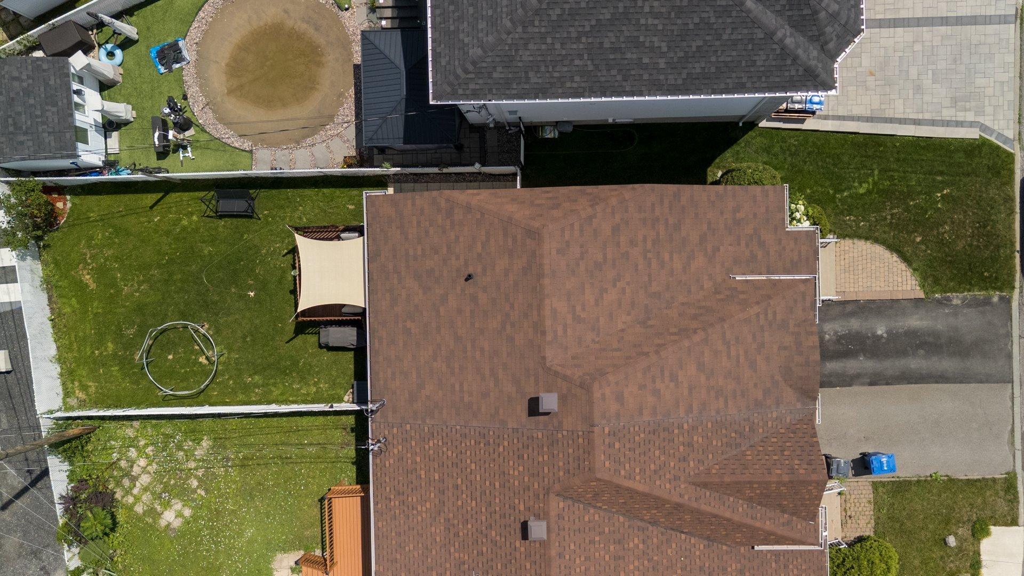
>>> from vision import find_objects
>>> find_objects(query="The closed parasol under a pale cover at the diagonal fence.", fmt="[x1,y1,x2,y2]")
[86,10,141,44]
